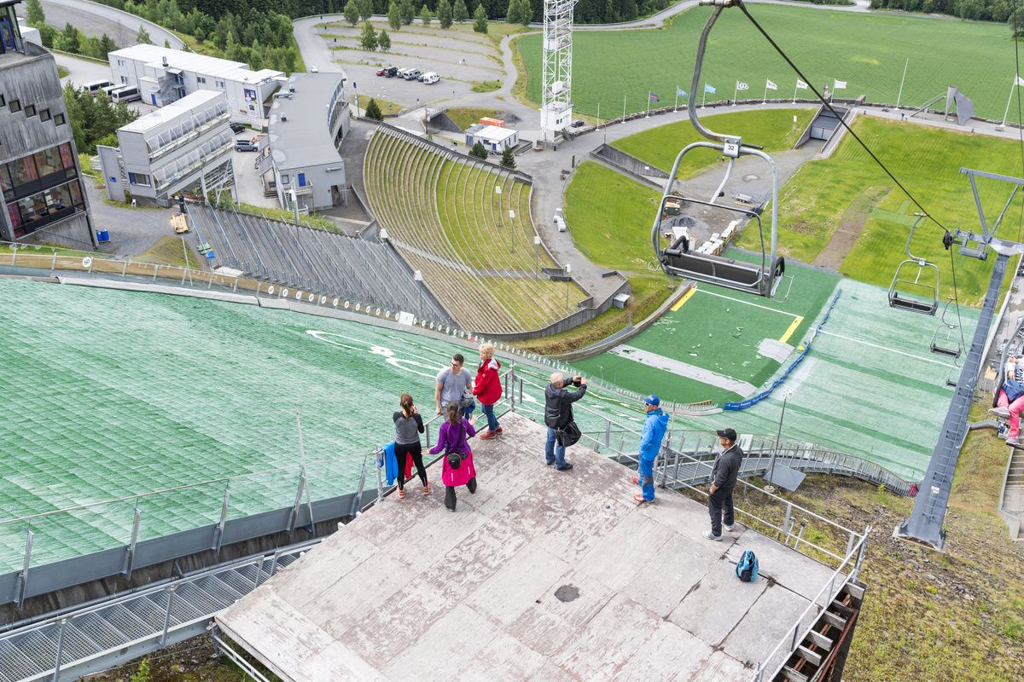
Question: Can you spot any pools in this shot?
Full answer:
No, this view has no pool in it.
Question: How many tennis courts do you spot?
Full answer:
The count of tennis courts is 0.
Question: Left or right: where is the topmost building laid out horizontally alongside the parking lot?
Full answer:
The topmost building laid out horizontally alongside the parking lot sits on the left side.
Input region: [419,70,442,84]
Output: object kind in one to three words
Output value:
vehicle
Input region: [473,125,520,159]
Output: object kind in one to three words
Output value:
building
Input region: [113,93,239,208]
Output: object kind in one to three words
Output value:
building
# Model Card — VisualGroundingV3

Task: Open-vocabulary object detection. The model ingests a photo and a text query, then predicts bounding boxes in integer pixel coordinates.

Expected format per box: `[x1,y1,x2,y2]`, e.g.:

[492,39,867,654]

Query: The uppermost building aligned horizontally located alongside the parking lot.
[106,40,295,125]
